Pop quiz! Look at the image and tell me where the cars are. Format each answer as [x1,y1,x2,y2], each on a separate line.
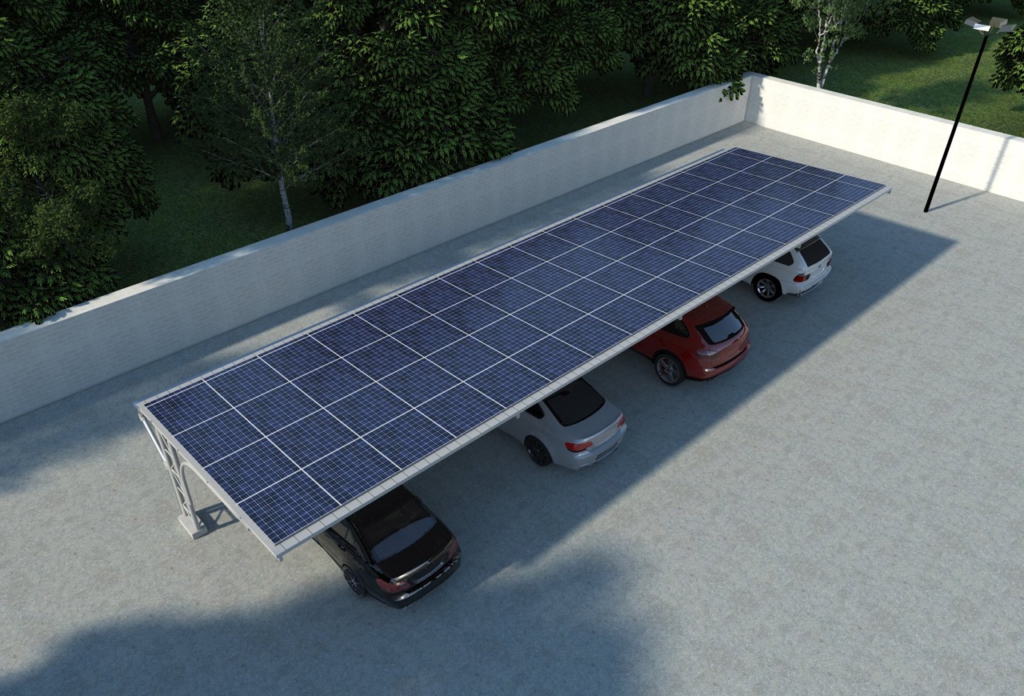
[747,234,835,301]
[501,377,625,472]
[628,298,749,385]
[315,484,458,604]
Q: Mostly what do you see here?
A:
paved ground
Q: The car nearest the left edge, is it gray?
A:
No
